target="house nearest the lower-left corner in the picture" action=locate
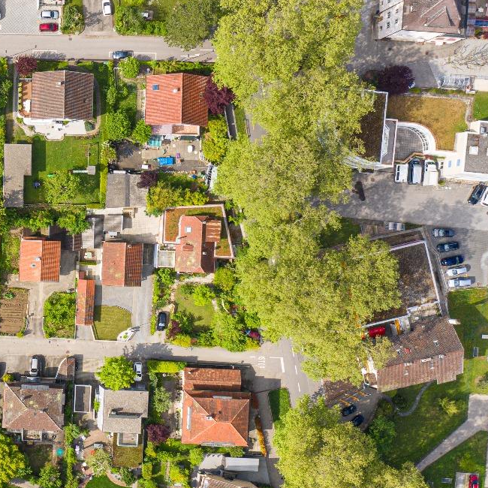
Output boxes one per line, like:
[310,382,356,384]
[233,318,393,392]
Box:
[1,384,65,440]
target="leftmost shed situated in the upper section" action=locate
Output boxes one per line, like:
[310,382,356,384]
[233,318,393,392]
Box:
[2,144,32,208]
